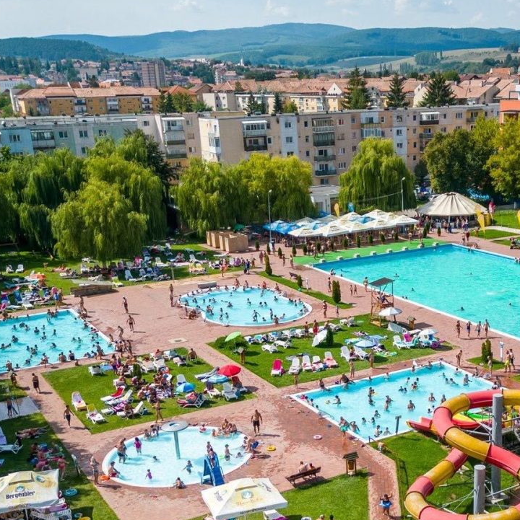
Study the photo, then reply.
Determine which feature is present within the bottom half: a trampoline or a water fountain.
water fountain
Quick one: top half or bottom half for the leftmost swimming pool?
bottom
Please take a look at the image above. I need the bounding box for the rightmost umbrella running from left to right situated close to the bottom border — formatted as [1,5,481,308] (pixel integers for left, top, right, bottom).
[200,478,289,520]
